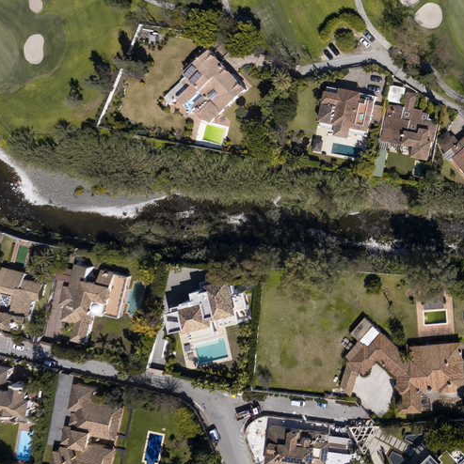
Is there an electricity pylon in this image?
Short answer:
No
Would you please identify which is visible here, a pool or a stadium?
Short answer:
pool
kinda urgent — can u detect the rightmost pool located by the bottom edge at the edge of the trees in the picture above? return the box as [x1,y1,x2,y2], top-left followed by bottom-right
[141,432,165,464]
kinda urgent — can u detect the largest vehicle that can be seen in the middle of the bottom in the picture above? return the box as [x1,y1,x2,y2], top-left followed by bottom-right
[236,406,259,418]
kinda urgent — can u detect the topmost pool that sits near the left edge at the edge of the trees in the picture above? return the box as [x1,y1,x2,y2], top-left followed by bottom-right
[11,241,32,267]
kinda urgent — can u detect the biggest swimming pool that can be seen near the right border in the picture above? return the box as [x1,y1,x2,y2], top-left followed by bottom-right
[422,310,447,326]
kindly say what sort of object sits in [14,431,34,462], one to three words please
swimming pool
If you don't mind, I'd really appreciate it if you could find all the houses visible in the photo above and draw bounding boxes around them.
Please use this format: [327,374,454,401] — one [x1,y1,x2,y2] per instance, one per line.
[312,84,379,139]
[438,134,464,171]
[0,354,39,419]
[164,280,253,335]
[52,380,129,464]
[0,267,47,333]
[166,47,250,123]
[262,422,330,464]
[338,315,464,417]
[380,91,440,161]
[58,261,127,344]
